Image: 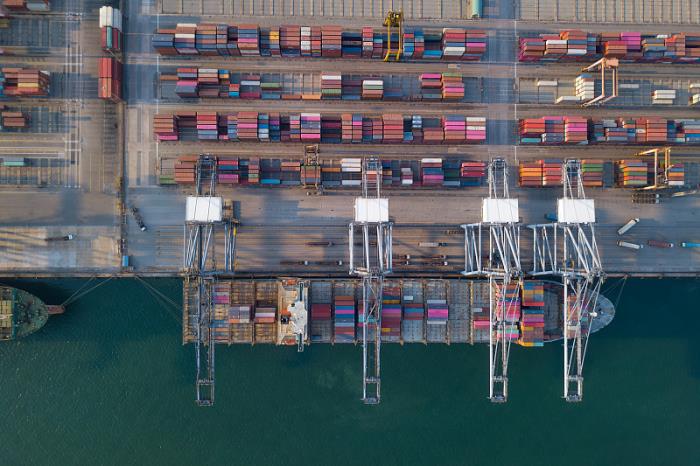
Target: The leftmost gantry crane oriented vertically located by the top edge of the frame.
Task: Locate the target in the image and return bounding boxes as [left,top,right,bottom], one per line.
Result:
[383,8,404,63]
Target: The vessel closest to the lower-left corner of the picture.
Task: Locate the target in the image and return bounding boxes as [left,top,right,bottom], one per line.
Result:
[0,284,66,340]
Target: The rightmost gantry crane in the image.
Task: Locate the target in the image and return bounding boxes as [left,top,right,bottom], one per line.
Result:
[632,146,669,191]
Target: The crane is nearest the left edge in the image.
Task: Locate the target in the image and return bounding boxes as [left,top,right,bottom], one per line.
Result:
[181,156,247,404]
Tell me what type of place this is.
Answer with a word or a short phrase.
port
